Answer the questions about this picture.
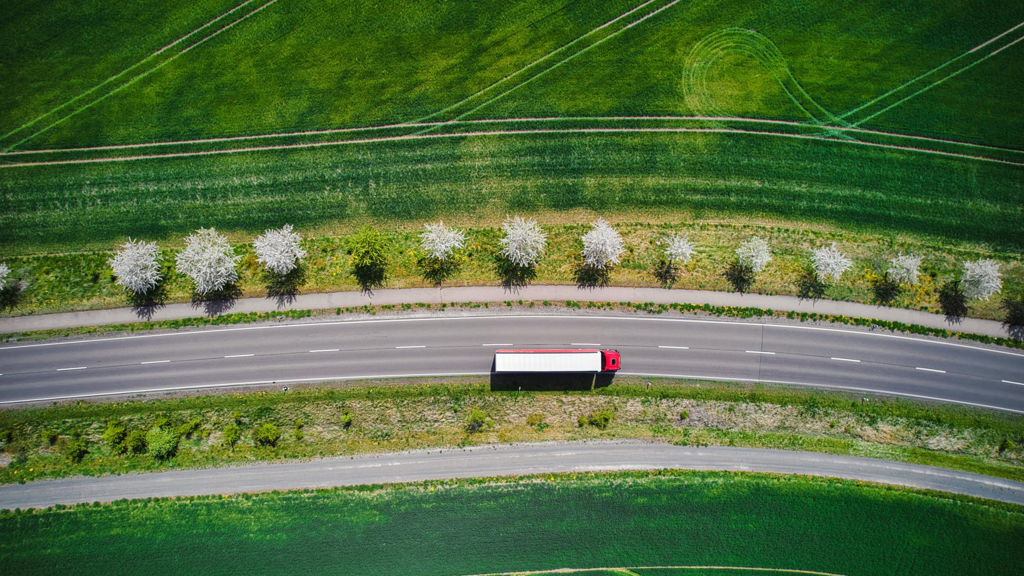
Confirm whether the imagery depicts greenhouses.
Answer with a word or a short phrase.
No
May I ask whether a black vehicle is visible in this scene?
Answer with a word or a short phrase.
No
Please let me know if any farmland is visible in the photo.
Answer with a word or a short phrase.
Yes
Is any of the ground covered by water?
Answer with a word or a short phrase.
No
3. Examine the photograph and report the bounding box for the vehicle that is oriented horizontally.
[496,348,621,372]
